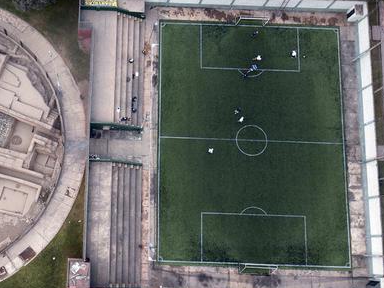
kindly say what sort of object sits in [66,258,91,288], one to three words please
building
